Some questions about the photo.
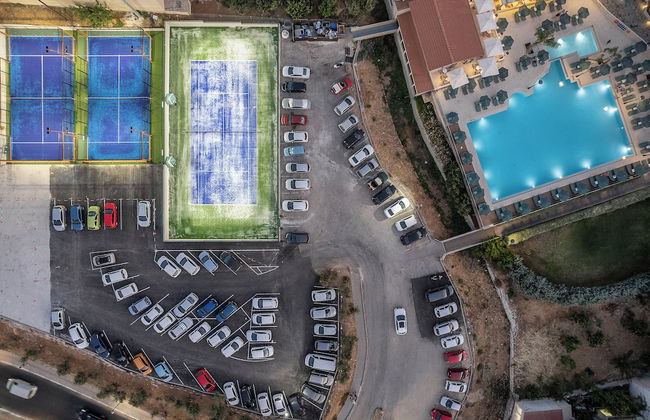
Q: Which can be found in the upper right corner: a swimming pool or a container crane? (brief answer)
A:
swimming pool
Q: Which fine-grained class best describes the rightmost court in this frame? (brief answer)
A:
tennis court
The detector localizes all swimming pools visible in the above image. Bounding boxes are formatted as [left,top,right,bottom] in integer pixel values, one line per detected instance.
[542,27,602,60]
[465,57,638,206]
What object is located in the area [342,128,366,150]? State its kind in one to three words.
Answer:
car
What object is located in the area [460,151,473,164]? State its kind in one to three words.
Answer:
umbrella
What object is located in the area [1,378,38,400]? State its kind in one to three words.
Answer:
vehicle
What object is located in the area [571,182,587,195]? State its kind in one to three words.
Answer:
umbrella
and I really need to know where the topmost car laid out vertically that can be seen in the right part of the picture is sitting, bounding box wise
[394,307,408,335]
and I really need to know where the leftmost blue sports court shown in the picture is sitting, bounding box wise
[0,25,74,161]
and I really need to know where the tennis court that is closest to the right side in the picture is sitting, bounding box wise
[162,19,281,242]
